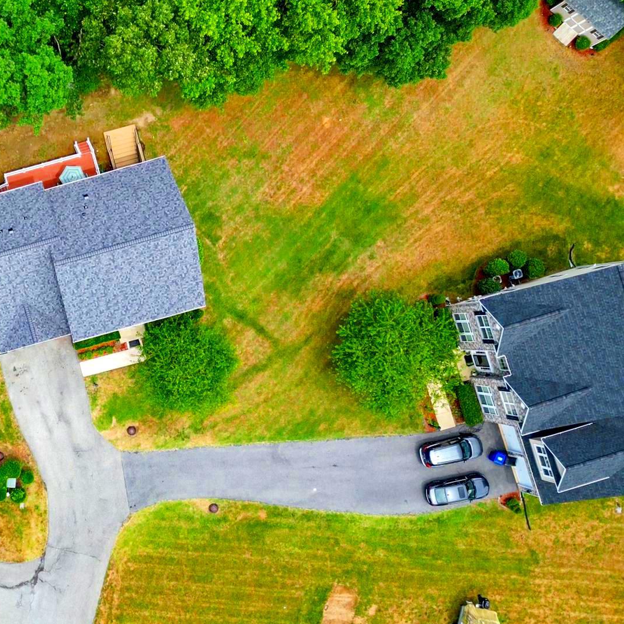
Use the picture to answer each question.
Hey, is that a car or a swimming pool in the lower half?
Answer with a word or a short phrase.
car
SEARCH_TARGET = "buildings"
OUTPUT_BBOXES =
[451,254,624,508]
[550,0,624,56]
[0,155,207,354]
